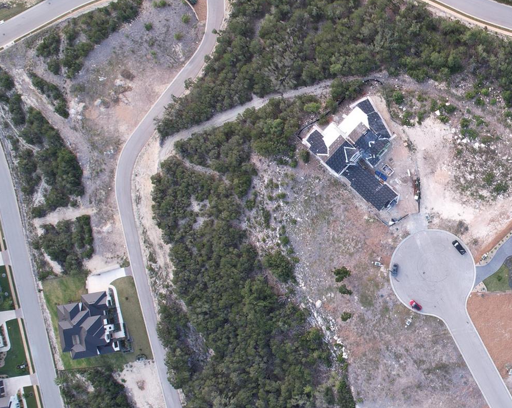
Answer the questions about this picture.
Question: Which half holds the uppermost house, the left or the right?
right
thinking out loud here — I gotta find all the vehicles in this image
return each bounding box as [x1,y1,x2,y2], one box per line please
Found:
[408,300,424,313]
[391,262,399,277]
[451,239,466,256]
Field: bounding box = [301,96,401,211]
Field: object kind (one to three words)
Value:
house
